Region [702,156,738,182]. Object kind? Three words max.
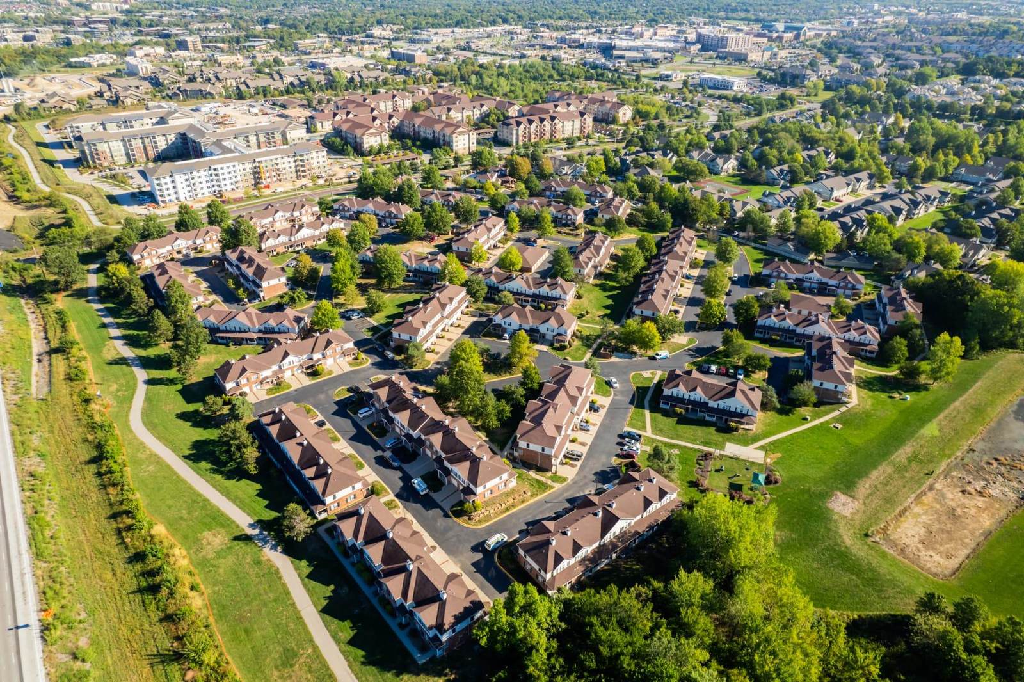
house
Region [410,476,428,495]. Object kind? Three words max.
car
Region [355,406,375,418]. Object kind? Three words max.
vehicle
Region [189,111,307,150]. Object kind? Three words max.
building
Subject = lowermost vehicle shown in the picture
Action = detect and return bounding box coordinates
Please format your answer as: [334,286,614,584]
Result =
[482,532,509,552]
